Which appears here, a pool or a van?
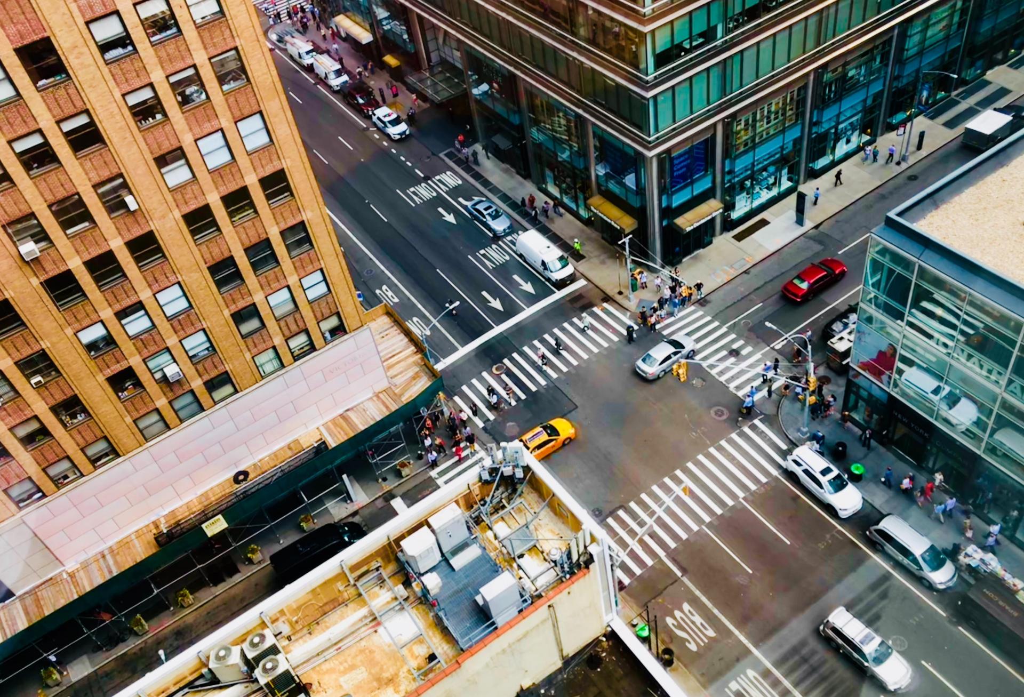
van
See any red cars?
Yes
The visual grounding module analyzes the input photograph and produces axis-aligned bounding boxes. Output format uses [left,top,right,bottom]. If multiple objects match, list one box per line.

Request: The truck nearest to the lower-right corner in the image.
[975,580,1024,659]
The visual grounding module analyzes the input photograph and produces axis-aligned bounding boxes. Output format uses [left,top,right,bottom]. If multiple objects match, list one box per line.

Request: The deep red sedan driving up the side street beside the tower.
[785,254,848,299]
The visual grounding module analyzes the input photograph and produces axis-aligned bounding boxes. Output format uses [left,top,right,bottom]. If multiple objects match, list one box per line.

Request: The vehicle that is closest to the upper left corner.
[283,31,318,66]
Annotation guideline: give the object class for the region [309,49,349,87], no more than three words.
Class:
van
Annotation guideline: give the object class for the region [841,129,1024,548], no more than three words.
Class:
building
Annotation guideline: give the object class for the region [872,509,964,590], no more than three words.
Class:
car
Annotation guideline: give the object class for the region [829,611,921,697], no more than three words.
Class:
car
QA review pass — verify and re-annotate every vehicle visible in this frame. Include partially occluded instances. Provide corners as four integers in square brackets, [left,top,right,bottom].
[371,104,409,137]
[514,222,575,281]
[309,49,349,87]
[975,580,1024,659]
[789,445,868,514]
[785,254,848,299]
[264,515,366,585]
[829,611,921,697]
[469,197,514,234]
[525,419,577,460]
[872,509,964,590]
[283,31,318,66]
[637,330,700,378]
[343,78,379,111]
[827,299,858,334]
[1008,104,1024,128]
[958,107,1023,160]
